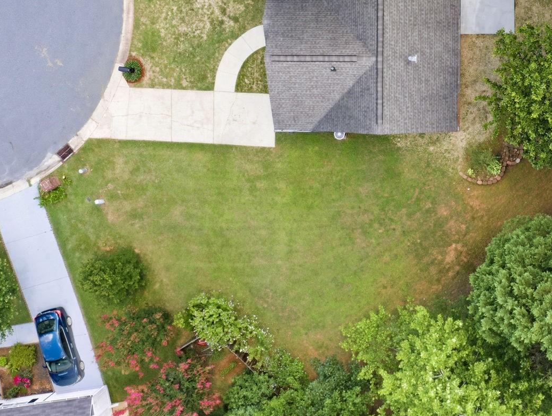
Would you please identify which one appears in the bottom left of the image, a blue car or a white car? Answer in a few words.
blue car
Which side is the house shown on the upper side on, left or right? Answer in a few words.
right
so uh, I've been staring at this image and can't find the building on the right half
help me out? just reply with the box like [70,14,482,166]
[263,0,462,134]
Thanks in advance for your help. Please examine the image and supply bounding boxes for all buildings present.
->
[263,0,462,134]
[0,380,116,416]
